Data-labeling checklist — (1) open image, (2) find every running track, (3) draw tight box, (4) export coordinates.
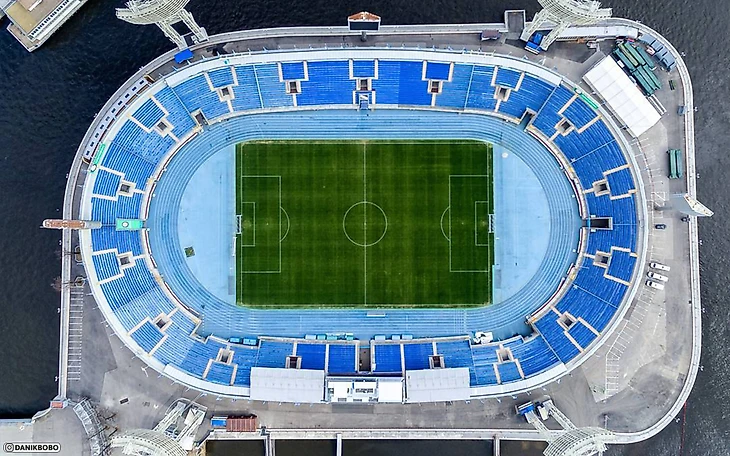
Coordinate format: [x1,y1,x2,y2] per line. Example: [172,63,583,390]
[143,110,587,345]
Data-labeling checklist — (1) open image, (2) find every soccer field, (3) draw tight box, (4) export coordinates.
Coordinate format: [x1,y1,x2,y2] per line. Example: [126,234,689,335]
[235,139,493,310]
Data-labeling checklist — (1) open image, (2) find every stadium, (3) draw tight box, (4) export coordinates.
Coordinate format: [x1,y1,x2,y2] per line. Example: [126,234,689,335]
[74,42,654,408]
